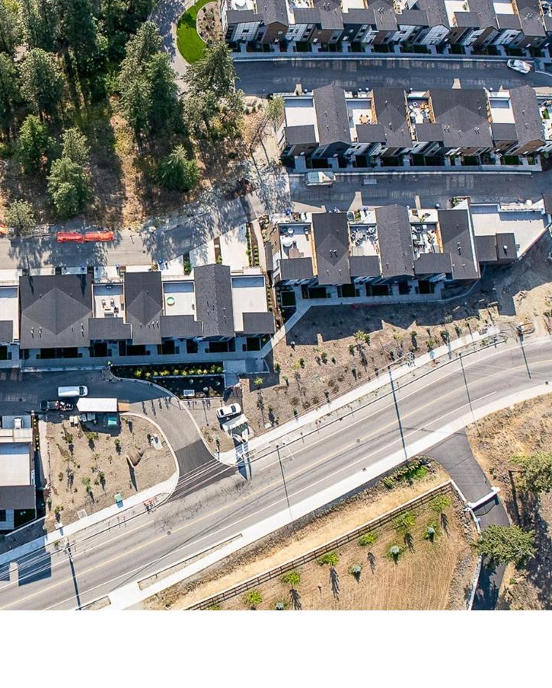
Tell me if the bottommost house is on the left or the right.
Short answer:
left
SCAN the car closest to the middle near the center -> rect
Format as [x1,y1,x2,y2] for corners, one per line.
[219,404,243,418]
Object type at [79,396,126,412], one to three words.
trailer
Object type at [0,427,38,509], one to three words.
house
